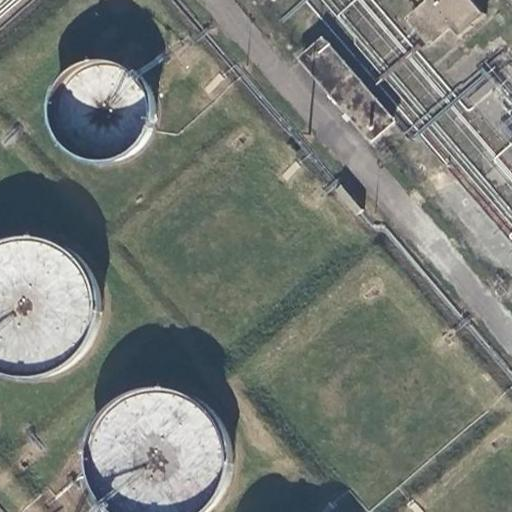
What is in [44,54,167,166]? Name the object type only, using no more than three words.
storage tank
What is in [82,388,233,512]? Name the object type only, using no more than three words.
storage tank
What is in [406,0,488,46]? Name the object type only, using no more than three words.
building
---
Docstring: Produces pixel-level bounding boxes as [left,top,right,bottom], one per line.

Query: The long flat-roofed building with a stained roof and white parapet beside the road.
[297,38,398,144]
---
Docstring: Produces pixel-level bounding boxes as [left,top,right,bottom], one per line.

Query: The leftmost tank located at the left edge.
[0,235,100,382]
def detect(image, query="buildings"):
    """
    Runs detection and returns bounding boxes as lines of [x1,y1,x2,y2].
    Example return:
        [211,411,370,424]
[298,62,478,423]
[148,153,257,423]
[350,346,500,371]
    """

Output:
[297,38,398,144]
[406,0,488,46]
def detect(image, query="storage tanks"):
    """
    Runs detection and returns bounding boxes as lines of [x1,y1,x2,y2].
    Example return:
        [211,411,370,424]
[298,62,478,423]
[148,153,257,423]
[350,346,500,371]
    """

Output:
[82,388,233,512]
[0,235,100,382]
[44,54,167,166]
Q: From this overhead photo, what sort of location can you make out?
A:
industrial area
